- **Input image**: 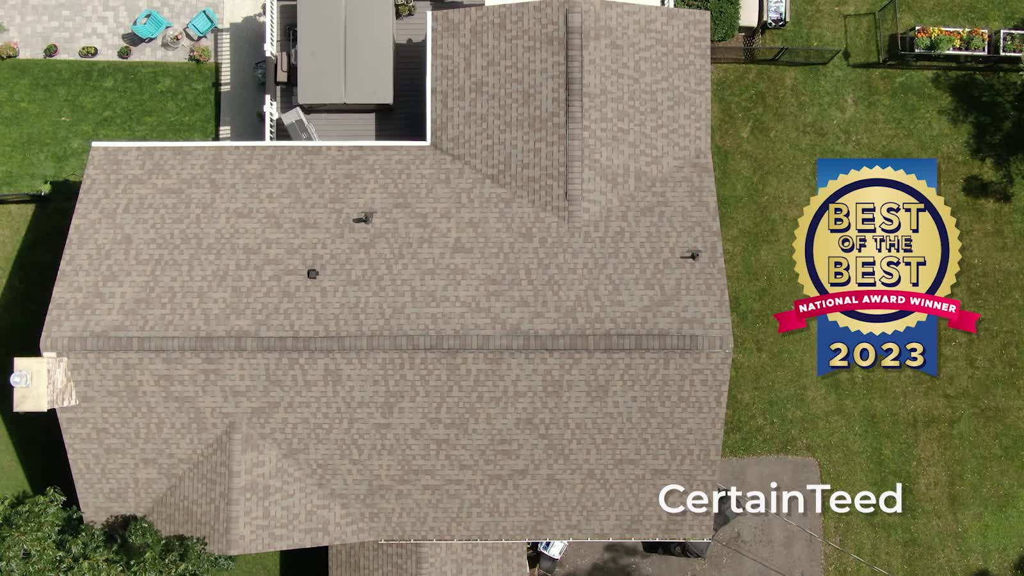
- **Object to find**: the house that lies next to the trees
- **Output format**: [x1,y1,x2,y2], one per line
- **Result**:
[9,0,734,576]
